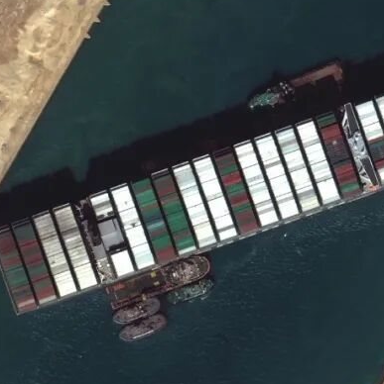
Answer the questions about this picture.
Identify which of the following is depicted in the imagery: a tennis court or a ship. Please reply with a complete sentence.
It is a ship that can be seen here.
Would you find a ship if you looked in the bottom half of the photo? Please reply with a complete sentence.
Yes, a ship shows up in the bottom half of the photo.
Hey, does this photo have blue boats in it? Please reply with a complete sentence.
No, there is no blue boat in the image.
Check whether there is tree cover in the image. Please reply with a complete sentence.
No, the picture contains no tree cover.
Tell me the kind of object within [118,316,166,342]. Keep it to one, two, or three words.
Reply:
boat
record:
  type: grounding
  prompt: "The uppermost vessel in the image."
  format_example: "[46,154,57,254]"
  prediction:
[290,63,341,87]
